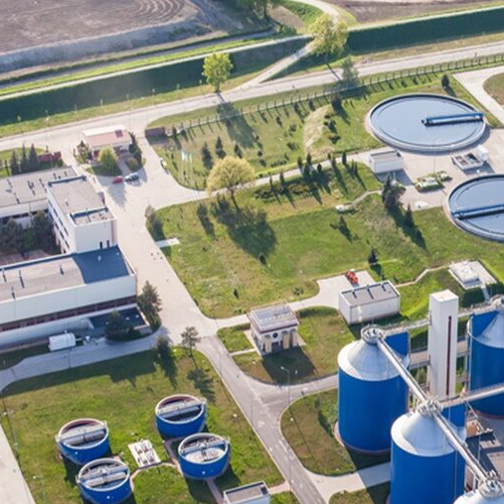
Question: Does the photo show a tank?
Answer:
Yes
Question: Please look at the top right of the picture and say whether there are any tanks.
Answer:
Yes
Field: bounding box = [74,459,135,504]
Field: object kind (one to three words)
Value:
storage tank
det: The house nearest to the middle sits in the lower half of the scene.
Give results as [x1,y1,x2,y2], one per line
[246,301,303,354]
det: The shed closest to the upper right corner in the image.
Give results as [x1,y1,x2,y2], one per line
[368,149,403,176]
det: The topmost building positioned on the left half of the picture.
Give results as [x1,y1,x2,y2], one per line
[80,125,133,162]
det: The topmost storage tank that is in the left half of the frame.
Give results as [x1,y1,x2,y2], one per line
[154,393,210,442]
